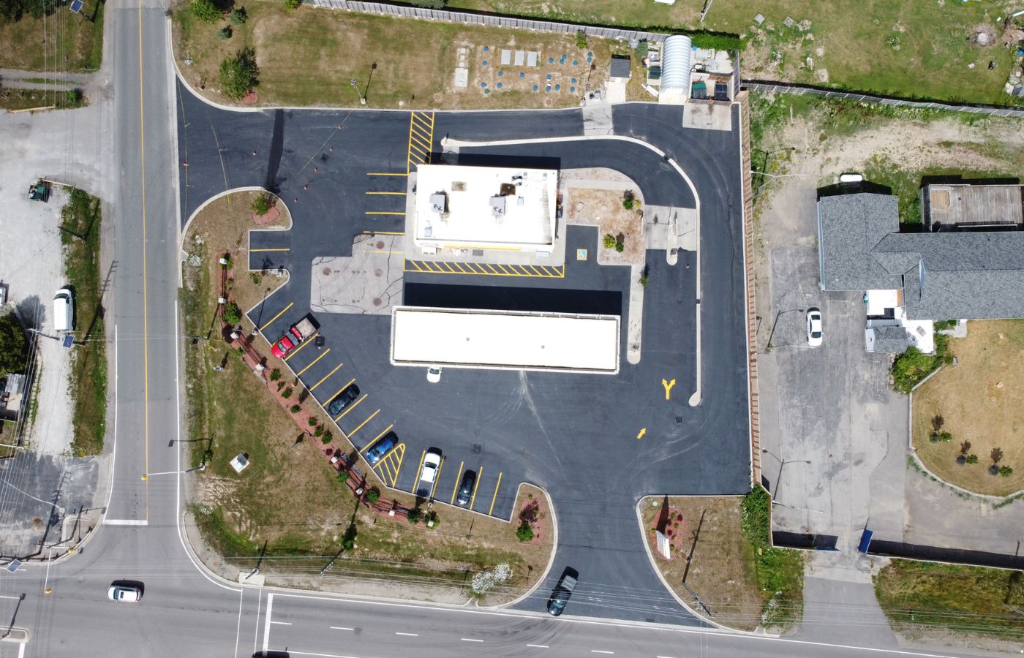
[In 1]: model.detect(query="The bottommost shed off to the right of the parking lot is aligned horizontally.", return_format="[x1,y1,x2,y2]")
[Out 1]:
[861,327,912,352]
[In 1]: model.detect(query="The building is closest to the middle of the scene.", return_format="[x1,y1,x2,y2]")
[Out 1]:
[414,164,557,254]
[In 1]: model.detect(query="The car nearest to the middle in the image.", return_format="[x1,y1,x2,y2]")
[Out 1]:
[427,366,443,383]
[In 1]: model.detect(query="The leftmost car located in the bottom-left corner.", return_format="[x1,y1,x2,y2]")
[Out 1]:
[107,585,145,603]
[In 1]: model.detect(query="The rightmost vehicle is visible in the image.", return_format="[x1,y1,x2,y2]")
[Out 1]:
[806,311,823,346]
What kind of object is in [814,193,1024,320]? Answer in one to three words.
house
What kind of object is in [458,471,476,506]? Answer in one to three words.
car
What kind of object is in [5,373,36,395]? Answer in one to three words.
shed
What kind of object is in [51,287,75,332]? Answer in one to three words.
vehicle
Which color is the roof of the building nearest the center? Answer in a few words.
white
